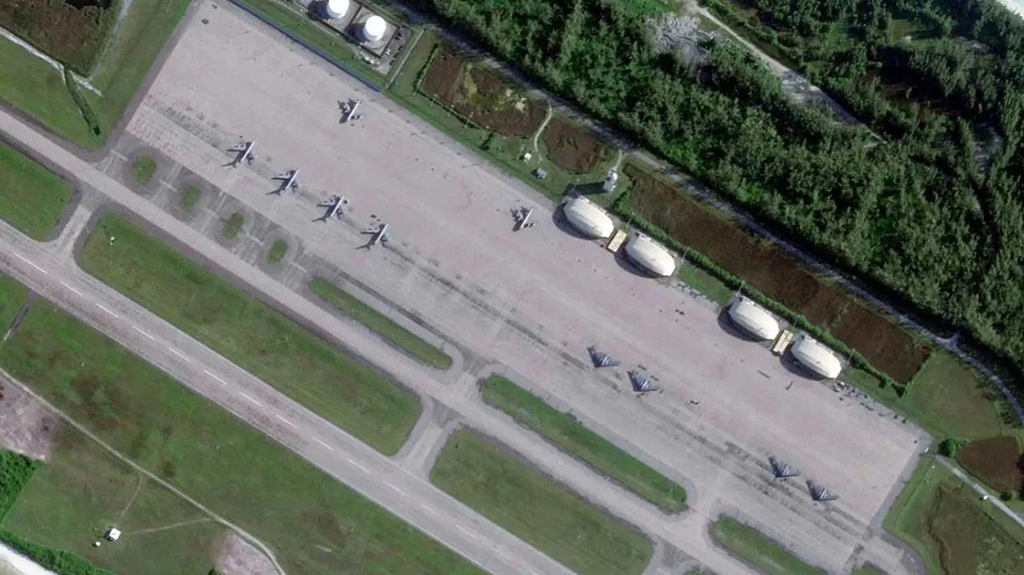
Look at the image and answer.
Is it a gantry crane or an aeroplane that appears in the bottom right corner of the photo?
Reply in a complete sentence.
What appears in the bottom right corner of the photo is an aeroplane.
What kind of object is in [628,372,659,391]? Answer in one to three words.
airplane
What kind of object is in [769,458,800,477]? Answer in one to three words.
airplane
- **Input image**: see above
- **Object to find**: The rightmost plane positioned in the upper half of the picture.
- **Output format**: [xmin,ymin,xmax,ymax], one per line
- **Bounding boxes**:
[518,204,543,228]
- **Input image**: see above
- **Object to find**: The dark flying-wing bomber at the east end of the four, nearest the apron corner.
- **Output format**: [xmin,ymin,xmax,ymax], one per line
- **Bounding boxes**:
[808,481,839,500]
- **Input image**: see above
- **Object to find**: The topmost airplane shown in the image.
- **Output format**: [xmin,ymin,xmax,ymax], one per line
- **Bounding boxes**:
[345,97,369,120]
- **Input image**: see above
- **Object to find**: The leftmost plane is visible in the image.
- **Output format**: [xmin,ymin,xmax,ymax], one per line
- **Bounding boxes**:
[228,142,257,168]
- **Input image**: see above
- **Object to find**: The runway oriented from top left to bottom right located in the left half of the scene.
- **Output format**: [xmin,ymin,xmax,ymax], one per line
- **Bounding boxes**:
[0,220,576,575]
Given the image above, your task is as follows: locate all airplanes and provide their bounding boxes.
[628,372,659,391]
[362,224,391,250]
[769,458,800,477]
[317,196,346,222]
[590,347,621,366]
[518,204,543,228]
[228,142,257,168]
[272,169,301,195]
[808,481,839,500]
[345,97,369,120]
